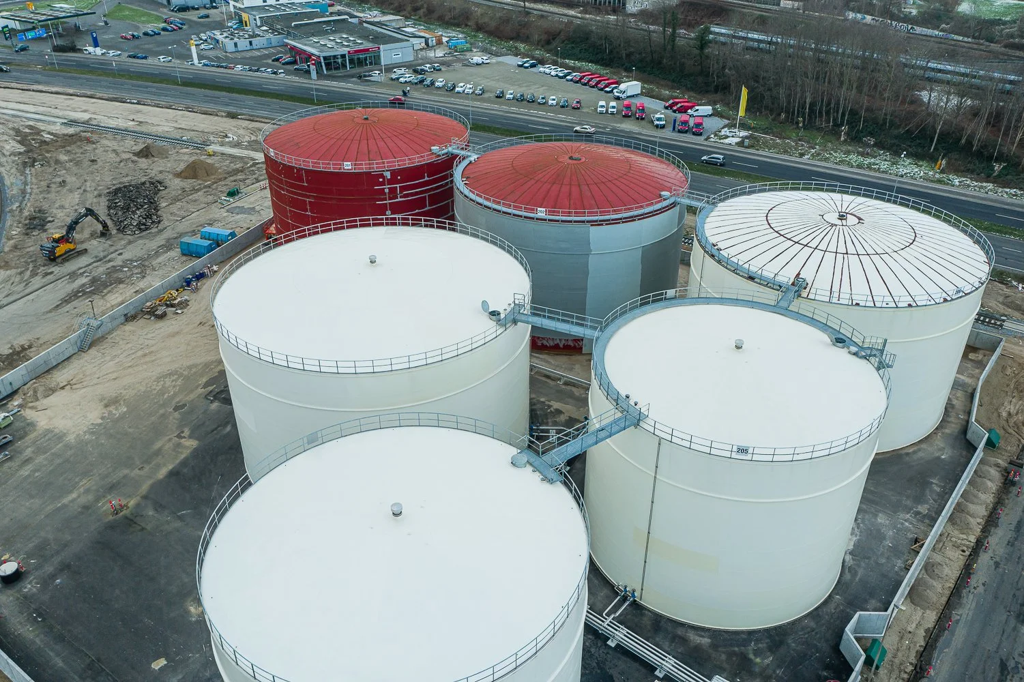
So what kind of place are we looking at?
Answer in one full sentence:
What you see here is an industrial area.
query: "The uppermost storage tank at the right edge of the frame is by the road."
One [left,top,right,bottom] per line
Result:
[688,181,994,453]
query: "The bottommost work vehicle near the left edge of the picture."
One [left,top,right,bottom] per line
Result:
[39,205,116,267]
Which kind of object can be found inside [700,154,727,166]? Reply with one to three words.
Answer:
vehicle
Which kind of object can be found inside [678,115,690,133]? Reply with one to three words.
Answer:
vehicle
